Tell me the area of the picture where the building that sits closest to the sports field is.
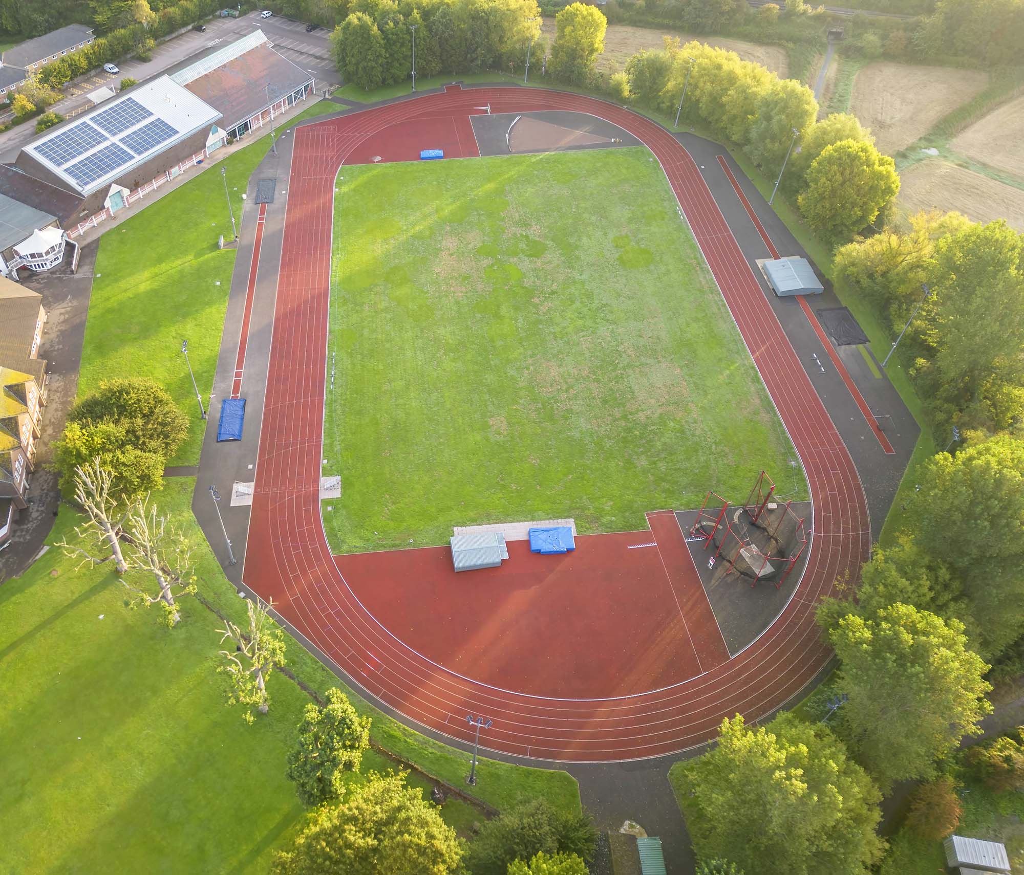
top left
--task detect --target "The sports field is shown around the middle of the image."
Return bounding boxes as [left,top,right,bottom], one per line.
[320,146,811,553]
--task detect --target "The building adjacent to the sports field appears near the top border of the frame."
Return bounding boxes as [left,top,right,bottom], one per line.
[0,32,319,239]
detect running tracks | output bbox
[241,84,871,763]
